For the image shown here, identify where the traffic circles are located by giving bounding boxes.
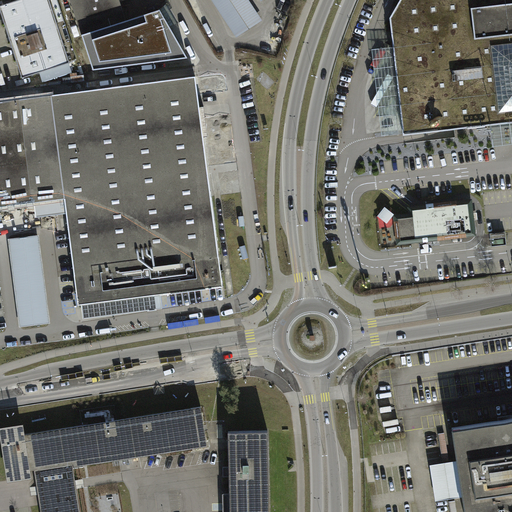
[273,298,352,376]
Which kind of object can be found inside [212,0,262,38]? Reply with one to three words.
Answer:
shed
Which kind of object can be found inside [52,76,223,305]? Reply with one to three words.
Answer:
building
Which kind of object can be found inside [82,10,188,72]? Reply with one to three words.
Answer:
building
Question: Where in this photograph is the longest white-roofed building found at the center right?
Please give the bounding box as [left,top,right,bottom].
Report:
[394,200,476,246]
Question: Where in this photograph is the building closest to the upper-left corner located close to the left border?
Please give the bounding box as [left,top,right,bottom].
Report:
[0,0,70,78]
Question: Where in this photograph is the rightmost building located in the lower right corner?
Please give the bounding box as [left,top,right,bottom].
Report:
[449,417,512,512]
